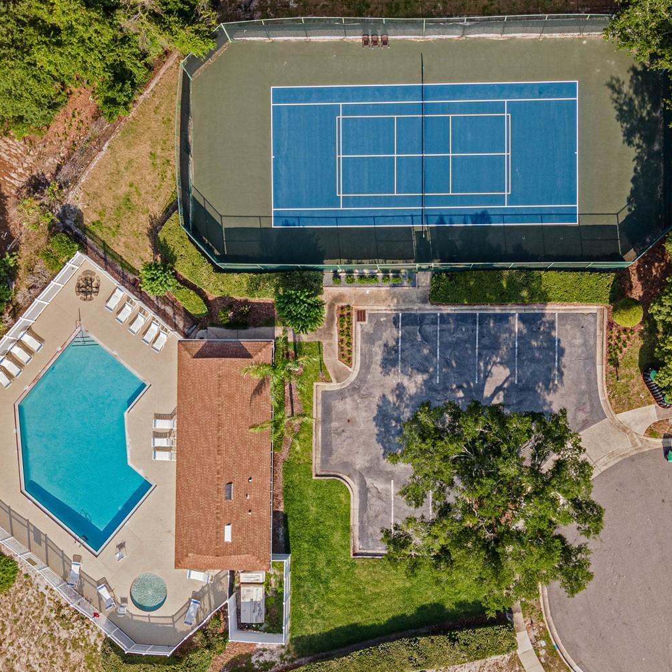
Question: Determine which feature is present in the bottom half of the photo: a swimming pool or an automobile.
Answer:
swimming pool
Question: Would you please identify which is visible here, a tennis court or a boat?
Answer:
tennis court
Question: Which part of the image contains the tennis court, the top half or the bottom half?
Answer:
top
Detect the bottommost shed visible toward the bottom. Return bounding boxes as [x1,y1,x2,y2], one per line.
[241,581,267,622]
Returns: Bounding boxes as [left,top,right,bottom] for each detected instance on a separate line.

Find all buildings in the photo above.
[177,338,275,571]
[241,581,267,622]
